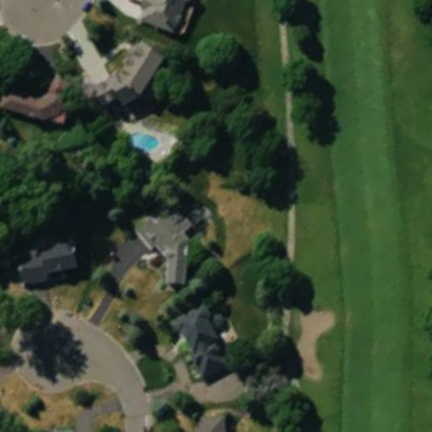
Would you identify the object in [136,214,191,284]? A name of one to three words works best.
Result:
house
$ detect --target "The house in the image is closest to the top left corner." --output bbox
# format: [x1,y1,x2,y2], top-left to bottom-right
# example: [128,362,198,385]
[0,71,66,124]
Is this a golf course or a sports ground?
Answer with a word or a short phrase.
golf course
